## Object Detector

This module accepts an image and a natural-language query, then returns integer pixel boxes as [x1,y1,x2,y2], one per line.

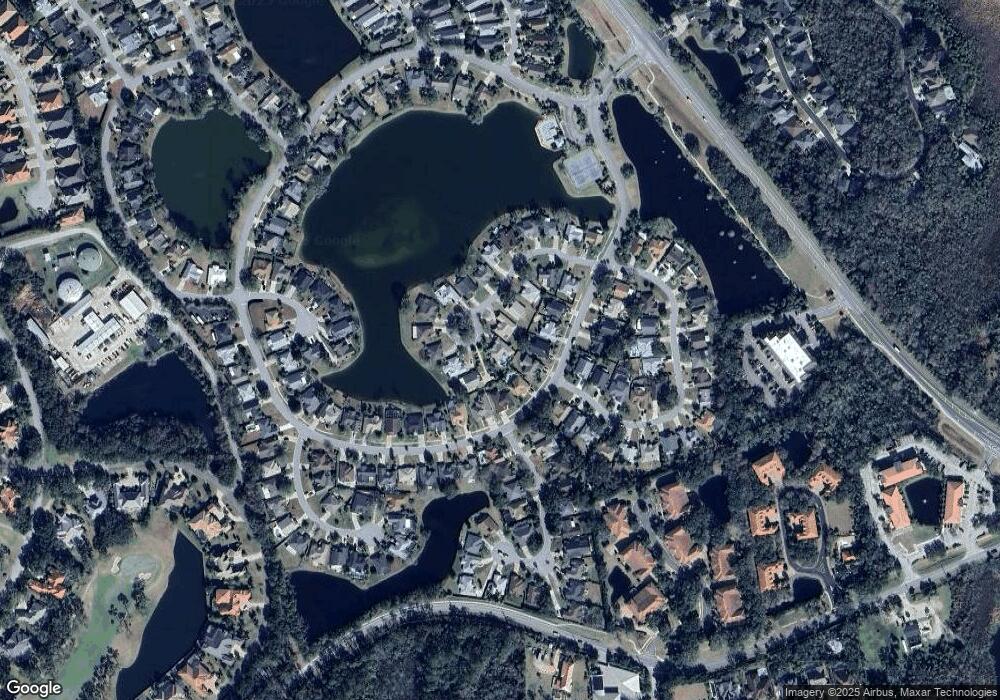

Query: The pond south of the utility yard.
[83,351,215,437]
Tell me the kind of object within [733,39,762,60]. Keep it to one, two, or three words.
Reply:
house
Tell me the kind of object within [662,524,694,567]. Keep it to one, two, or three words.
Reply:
building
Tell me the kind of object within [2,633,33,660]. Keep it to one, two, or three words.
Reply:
house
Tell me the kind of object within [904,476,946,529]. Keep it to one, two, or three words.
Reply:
pond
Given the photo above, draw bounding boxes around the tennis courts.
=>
[564,156,590,187]
[576,149,602,181]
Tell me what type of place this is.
residential area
